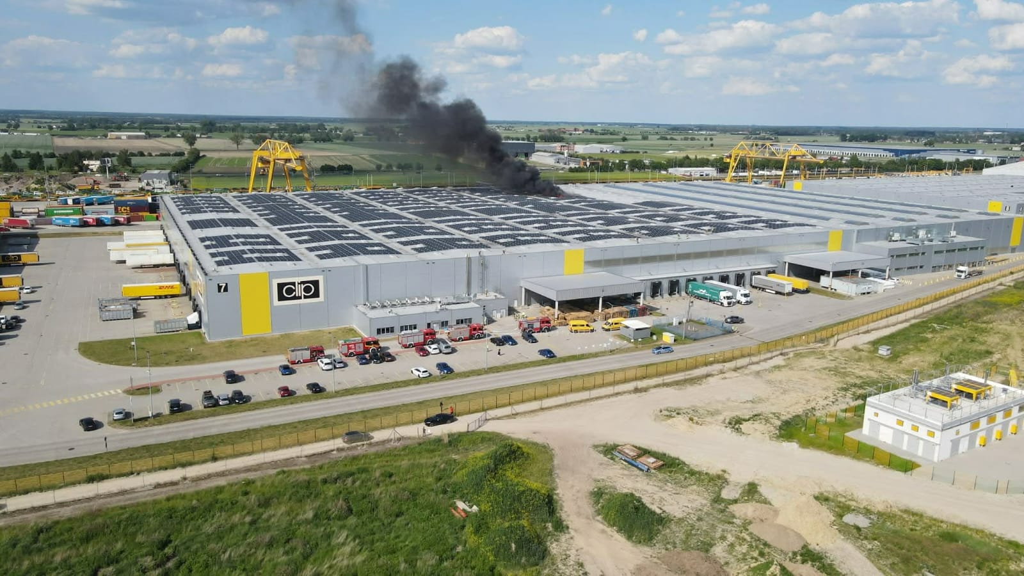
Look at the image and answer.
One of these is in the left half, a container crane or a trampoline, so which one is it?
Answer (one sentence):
You can see a container crane in the left half.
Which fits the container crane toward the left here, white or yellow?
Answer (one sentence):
From above, the container crane toward the left appears yellow.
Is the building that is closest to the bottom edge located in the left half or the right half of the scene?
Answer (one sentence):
The building that is closest to the bottom edge appears in the right half of the scene.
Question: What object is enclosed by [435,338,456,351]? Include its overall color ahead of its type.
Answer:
gray vehicle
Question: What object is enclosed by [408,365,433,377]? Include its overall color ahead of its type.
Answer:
white vehicle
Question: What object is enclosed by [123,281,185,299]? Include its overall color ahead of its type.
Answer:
yellow trailer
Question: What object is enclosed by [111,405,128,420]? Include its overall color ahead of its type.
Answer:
gray car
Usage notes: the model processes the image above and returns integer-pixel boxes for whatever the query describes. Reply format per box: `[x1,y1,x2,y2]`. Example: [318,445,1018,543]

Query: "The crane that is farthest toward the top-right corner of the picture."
[735,138,822,180]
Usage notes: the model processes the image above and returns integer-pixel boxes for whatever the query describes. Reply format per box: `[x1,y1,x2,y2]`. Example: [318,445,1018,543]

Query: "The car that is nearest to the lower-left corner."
[77,415,100,431]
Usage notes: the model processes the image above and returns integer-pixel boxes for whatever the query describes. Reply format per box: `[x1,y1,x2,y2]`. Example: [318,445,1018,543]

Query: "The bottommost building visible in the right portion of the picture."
[859,364,1024,463]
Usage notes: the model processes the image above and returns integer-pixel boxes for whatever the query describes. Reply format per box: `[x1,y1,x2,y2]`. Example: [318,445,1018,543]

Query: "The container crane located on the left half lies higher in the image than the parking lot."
[247,138,313,192]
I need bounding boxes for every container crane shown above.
[735,138,822,180]
[247,138,313,192]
